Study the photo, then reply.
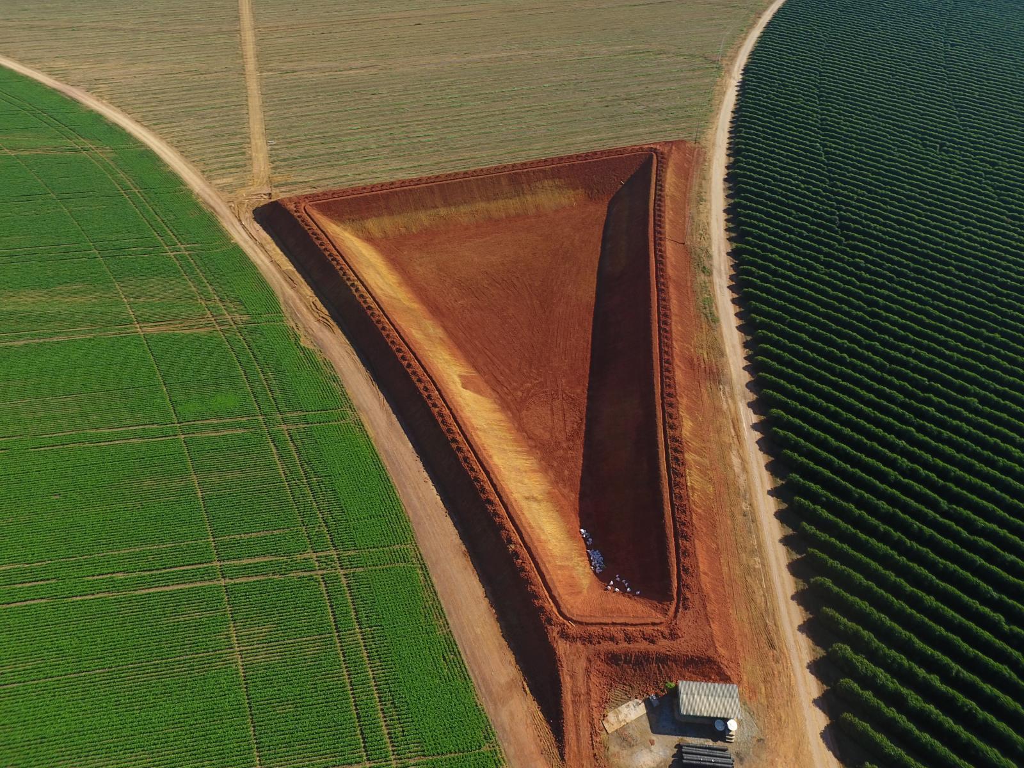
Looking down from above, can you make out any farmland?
Yes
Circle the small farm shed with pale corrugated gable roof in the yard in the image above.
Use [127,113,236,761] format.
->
[678,681,742,723]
